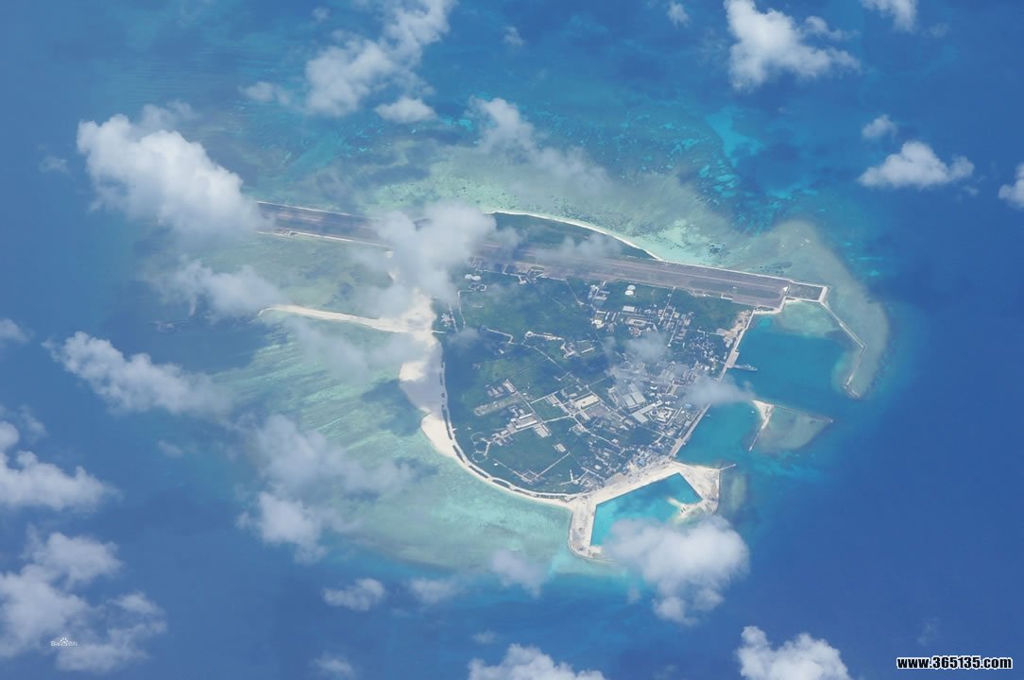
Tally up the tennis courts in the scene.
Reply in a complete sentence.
No tennis courts are visible.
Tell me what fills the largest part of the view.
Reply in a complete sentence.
Most of the picture is covered by water.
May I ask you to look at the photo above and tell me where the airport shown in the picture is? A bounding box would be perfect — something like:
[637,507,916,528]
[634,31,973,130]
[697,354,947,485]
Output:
[253,201,827,315]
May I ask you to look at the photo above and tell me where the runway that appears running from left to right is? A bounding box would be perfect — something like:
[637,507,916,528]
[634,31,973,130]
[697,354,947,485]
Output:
[253,212,780,292]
